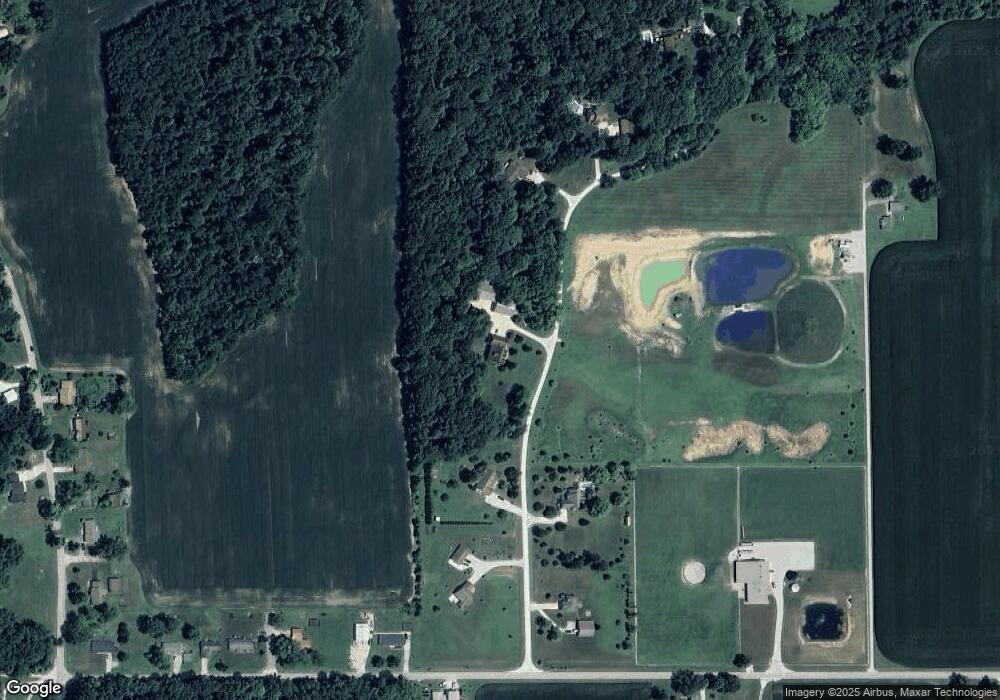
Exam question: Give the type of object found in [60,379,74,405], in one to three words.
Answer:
house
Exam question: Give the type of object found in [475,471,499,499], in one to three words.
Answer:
house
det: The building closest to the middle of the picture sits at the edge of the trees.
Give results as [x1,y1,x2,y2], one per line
[486,333,507,365]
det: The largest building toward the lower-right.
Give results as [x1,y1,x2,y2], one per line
[736,561,771,604]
